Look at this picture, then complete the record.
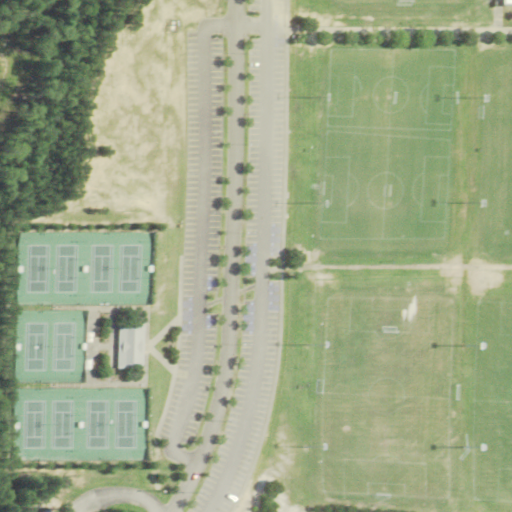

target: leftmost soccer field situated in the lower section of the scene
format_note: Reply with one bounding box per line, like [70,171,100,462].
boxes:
[323,296,455,499]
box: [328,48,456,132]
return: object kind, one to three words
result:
soccer field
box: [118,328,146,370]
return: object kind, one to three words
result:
building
